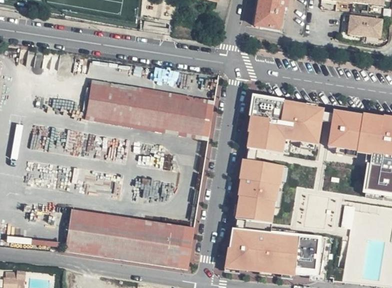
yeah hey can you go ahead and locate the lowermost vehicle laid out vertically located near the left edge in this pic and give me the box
[9,122,21,164]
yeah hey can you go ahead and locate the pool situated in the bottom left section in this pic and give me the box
[24,272,56,288]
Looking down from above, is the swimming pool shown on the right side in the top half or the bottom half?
bottom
